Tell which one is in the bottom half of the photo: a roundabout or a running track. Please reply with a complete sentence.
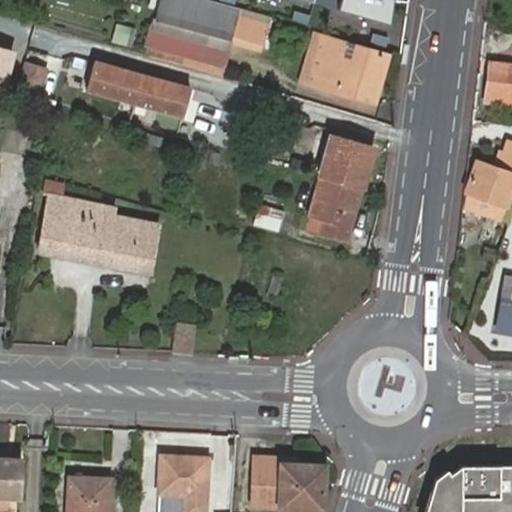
The one visible in the bottom half of the photo is a roundabout.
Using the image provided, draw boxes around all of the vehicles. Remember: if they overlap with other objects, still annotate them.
[420,405,434,429]
[423,280,439,372]
[46,72,56,94]
[354,212,368,238]
[148,0,158,14]
[390,470,402,492]
[199,104,224,118]
[100,276,123,286]
[194,118,216,132]
[429,30,442,52]
[258,406,279,416]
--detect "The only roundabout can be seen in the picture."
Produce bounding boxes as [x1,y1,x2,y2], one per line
[306,284,476,486]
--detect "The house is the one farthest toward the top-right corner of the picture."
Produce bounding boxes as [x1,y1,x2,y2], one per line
[482,61,512,108]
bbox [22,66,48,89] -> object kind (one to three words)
building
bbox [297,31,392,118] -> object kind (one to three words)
house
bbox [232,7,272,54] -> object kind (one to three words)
house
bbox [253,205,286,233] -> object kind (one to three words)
shed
